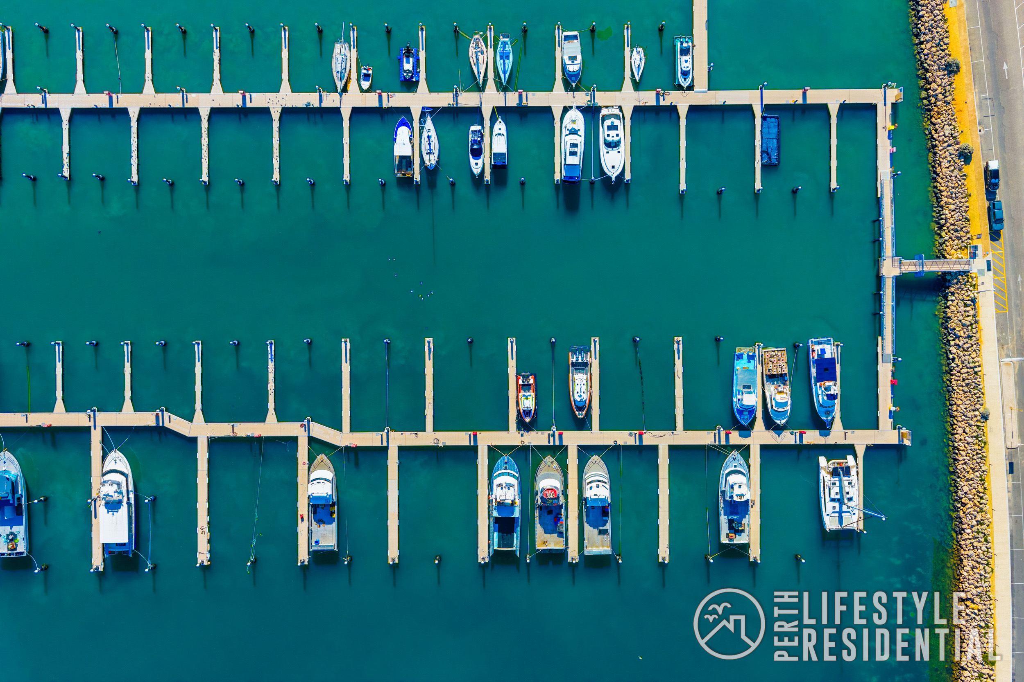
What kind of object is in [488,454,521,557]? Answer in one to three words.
boat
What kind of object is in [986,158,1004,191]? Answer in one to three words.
vehicle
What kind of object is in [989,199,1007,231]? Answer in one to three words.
vehicle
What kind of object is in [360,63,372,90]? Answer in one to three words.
boat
